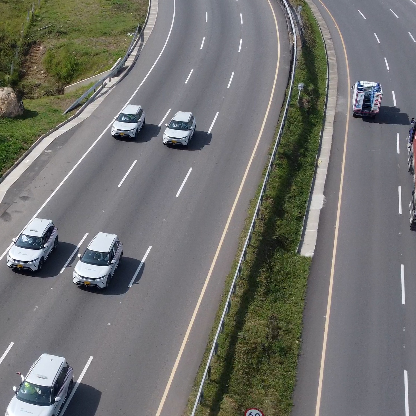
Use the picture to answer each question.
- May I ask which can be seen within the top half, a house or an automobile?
automobile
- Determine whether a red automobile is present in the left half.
No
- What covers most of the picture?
paved ground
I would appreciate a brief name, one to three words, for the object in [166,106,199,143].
car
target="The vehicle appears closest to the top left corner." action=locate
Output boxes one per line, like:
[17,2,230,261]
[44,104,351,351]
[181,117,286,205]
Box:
[113,101,148,136]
